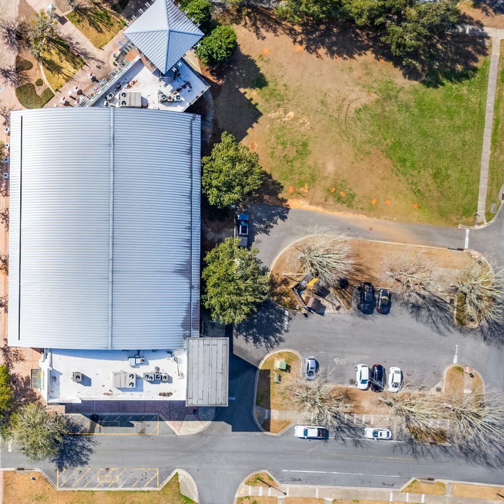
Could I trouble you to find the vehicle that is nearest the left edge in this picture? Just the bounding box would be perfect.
[235,212,250,247]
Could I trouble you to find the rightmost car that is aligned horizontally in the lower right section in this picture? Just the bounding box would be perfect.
[364,428,392,441]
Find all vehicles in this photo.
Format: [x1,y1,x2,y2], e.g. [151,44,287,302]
[370,364,385,392]
[358,283,374,314]
[376,288,391,314]
[235,212,250,247]
[386,367,401,393]
[295,425,328,440]
[364,428,392,441]
[355,363,369,391]
[304,356,319,381]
